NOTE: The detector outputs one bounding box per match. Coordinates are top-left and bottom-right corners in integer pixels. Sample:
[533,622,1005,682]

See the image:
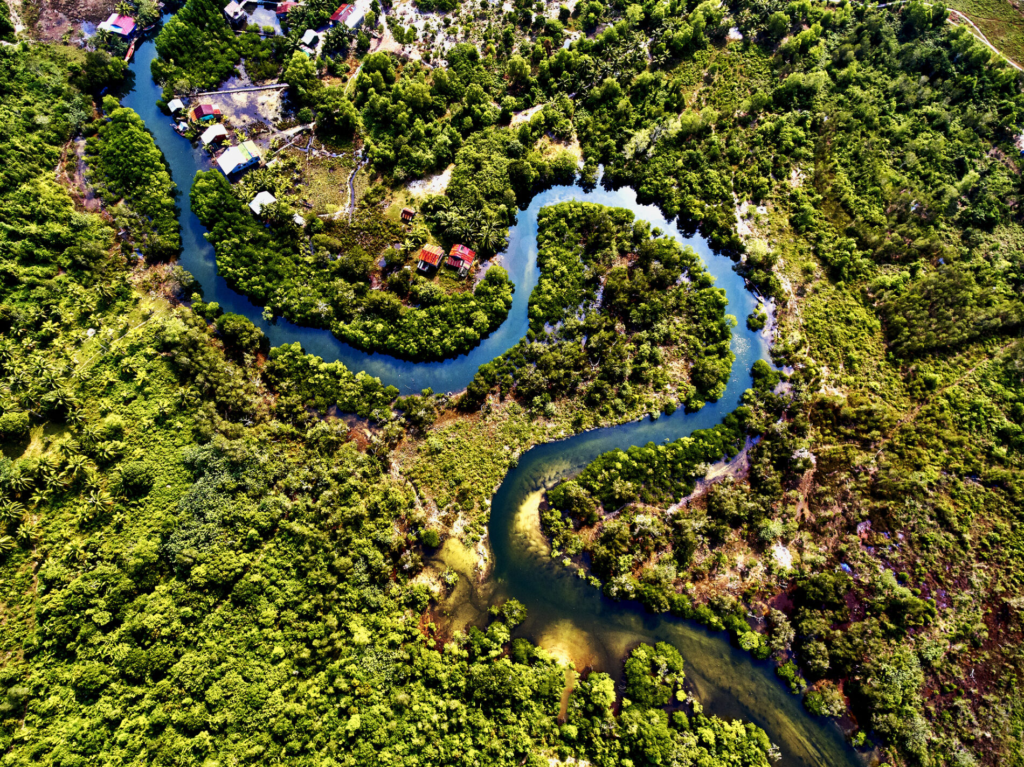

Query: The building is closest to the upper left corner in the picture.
[97,13,138,40]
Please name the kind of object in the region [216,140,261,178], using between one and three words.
house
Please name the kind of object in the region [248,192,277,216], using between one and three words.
house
